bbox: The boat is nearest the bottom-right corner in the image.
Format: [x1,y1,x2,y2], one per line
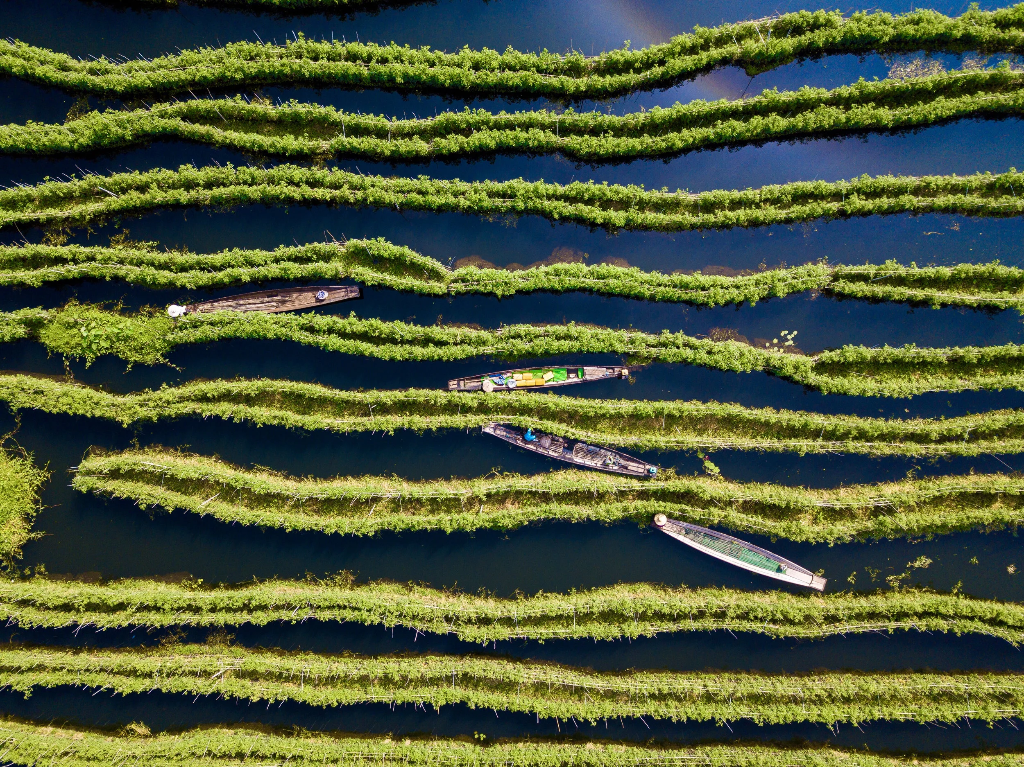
[655,519,830,593]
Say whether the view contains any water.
Yes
